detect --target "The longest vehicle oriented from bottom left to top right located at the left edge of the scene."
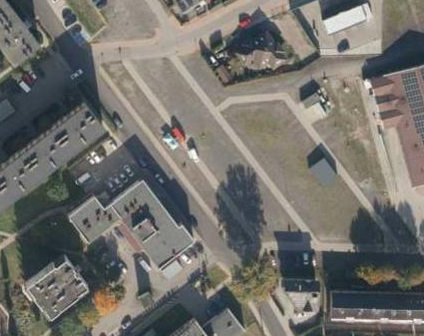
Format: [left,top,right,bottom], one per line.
[20,70,39,91]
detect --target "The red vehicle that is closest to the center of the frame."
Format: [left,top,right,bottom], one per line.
[170,125,187,144]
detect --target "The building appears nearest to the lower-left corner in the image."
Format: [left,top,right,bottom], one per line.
[24,257,90,322]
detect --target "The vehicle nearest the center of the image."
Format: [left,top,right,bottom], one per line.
[187,148,200,163]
